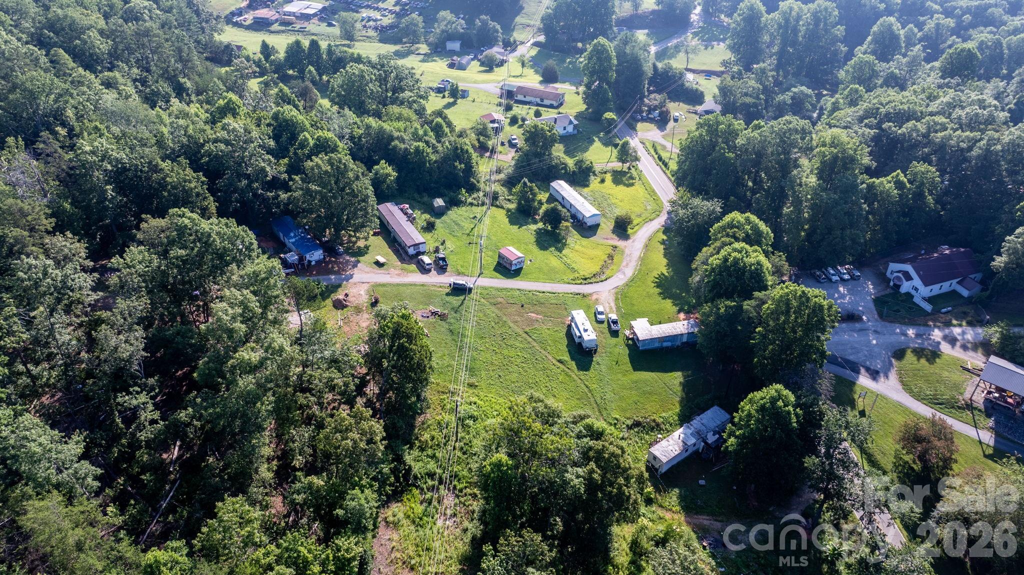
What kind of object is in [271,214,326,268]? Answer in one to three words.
house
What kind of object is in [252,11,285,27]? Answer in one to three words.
barn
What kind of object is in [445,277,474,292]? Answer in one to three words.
car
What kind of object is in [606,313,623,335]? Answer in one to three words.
vehicle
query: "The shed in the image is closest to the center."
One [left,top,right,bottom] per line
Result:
[497,244,525,268]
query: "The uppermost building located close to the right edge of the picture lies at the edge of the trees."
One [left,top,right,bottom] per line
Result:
[883,248,997,298]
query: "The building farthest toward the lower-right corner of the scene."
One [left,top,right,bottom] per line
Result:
[971,353,1024,411]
